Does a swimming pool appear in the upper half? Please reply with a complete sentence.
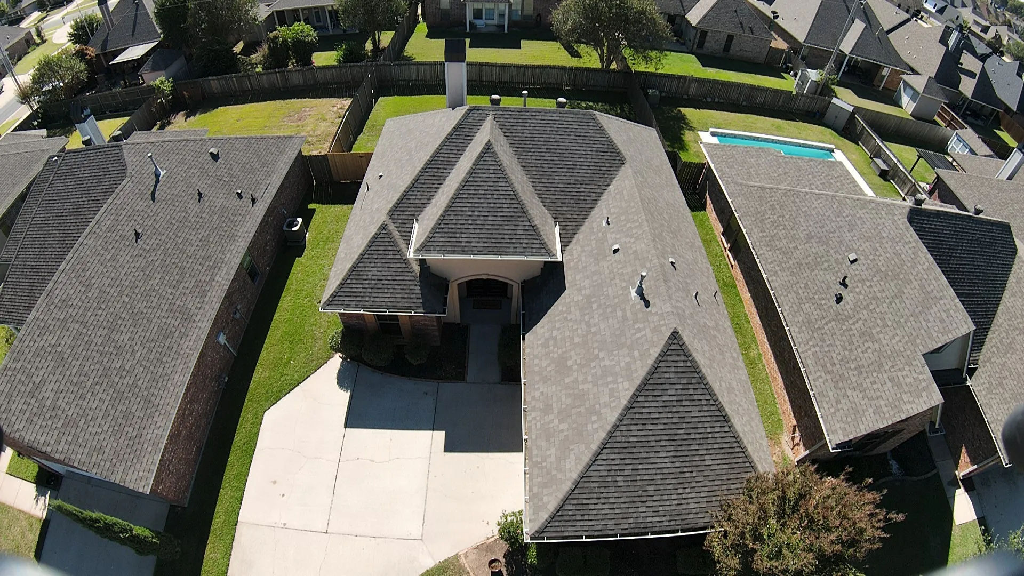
Yes, a swimming pool shows up in the upper half.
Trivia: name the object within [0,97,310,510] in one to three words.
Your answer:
house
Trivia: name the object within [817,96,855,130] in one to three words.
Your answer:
shed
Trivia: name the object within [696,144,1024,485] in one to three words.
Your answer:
house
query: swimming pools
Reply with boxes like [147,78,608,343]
[687,126,881,199]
